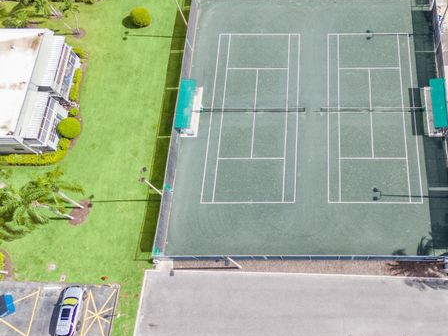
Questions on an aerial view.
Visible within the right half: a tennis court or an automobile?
tennis court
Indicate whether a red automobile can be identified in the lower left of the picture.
No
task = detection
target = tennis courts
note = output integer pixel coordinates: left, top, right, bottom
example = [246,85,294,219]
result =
[166,0,314,259]
[311,0,448,259]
